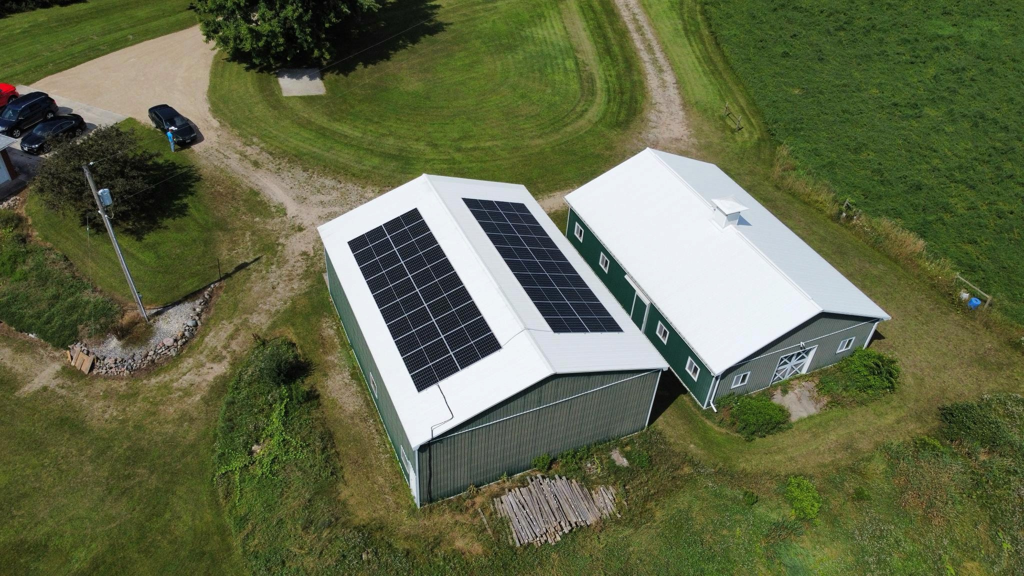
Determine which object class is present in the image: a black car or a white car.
black car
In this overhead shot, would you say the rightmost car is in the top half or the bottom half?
top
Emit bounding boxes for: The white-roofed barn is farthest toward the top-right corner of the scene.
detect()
[563,145,890,414]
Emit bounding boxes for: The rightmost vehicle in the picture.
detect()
[142,105,194,145]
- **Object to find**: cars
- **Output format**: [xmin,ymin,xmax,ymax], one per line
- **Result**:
[0,76,19,104]
[142,105,194,145]
[16,111,89,153]
[0,87,57,137]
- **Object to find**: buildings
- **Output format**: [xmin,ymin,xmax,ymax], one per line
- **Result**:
[318,172,668,510]
[563,145,890,414]
[0,133,22,186]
